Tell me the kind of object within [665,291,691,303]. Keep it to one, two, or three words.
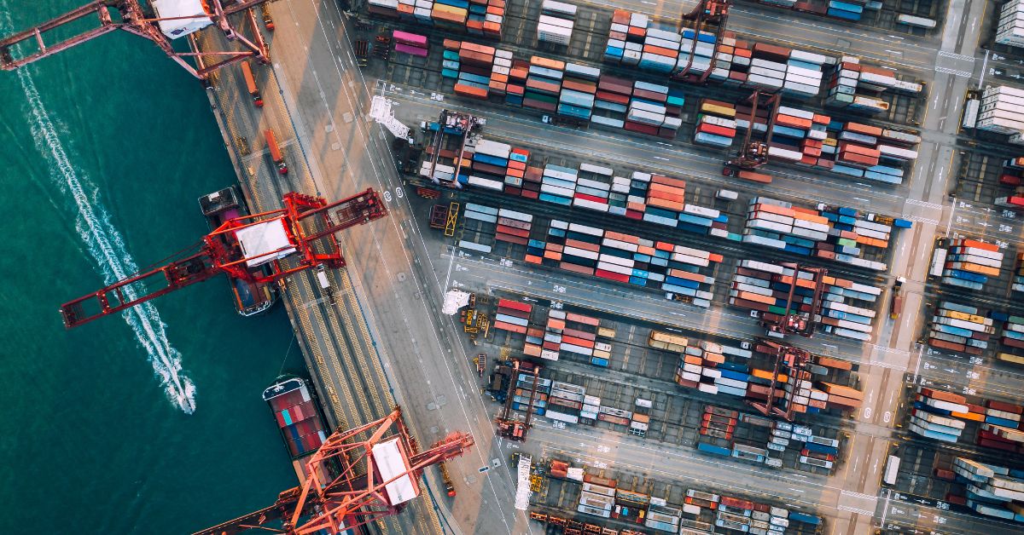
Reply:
vehicle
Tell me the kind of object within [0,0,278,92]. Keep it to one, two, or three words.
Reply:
container crane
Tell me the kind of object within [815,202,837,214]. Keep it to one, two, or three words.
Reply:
vehicle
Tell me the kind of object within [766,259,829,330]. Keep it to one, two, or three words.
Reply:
crane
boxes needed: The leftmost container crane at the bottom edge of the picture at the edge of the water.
[187,396,475,535]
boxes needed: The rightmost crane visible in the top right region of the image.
[724,88,786,173]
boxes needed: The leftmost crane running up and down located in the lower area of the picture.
[498,354,545,434]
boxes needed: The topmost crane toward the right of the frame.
[674,0,733,82]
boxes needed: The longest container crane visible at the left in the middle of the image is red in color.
[58,187,391,329]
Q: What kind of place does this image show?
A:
port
